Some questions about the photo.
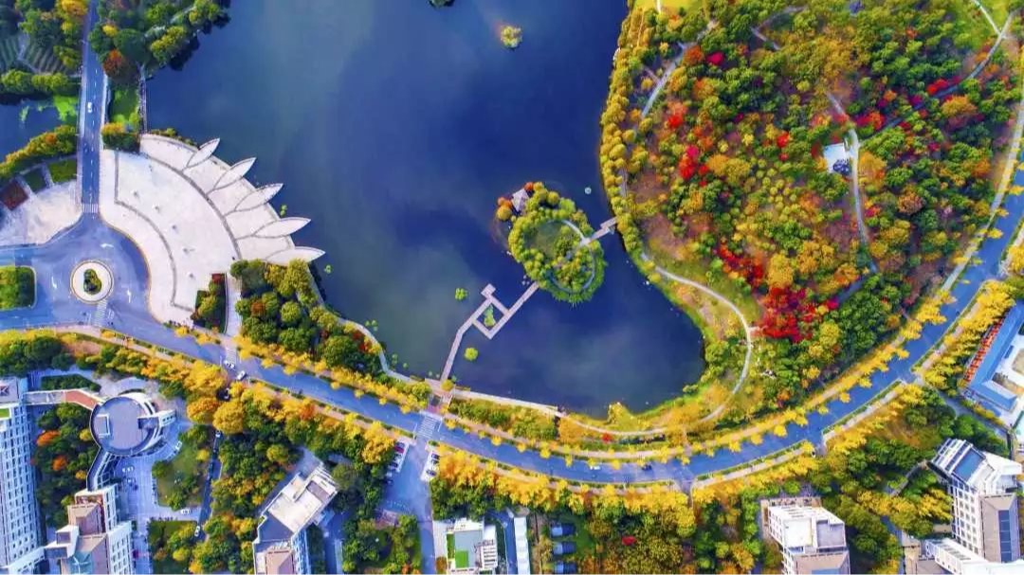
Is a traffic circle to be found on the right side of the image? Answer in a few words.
No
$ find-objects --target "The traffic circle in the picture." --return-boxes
[71,261,113,302]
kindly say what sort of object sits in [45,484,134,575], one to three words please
building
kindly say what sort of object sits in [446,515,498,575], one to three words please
building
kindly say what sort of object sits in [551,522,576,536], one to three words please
shed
